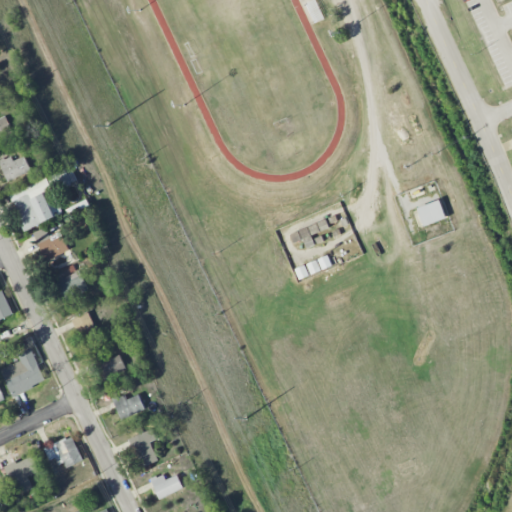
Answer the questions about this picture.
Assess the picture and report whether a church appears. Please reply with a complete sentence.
No, the frame has no church in it.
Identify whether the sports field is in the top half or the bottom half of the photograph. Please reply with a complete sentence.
You can find the sports field in the top half.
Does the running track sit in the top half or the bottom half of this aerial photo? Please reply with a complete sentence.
The running track sits in the top half of the picture.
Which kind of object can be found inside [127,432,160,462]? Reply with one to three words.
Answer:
house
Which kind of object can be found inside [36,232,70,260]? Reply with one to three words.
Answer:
house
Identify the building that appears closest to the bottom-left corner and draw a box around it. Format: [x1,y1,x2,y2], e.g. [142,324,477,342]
[5,453,34,482]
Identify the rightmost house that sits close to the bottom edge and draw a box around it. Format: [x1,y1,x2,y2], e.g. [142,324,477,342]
[150,474,180,500]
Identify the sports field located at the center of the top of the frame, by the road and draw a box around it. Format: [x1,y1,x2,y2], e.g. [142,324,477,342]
[157,0,339,176]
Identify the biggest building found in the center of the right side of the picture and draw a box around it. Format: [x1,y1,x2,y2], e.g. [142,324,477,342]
[416,198,448,227]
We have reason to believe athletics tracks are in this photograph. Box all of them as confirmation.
[150,0,344,182]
